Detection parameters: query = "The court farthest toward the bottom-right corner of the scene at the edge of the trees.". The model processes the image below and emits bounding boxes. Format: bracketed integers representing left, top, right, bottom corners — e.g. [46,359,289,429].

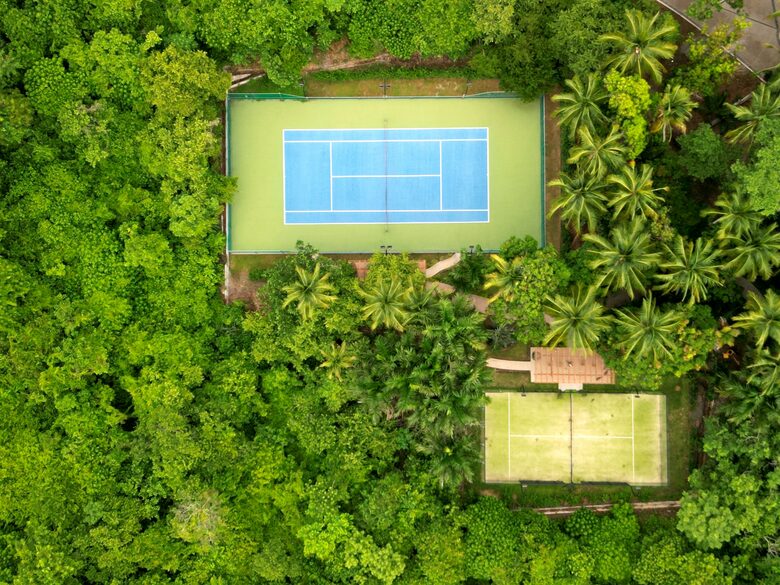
[484,390,661,484]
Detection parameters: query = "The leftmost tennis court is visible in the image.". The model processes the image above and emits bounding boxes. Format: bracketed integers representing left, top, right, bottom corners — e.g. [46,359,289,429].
[231,97,542,252]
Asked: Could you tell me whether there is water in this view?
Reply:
No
